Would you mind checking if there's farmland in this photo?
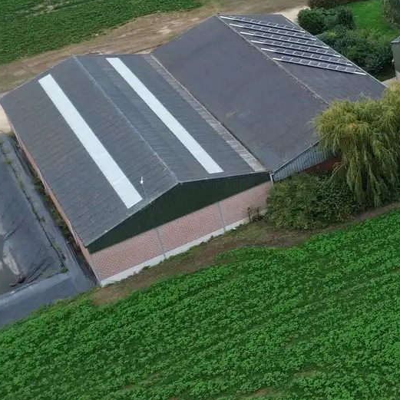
Yes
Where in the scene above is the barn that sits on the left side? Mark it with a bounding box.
[1,53,279,288]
